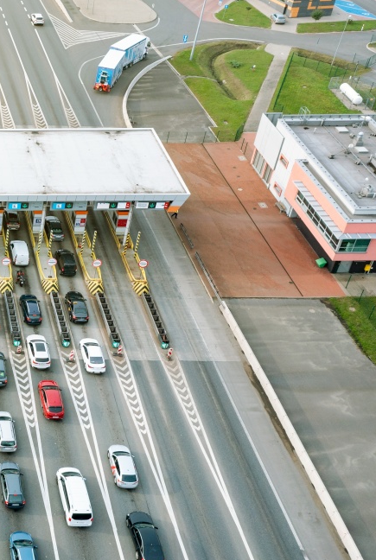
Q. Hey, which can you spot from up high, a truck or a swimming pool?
truck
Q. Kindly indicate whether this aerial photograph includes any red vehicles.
Yes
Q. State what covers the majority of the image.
paved ground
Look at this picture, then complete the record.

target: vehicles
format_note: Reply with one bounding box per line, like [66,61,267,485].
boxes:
[272,10,288,22]
[20,293,42,325]
[80,339,105,374]
[131,514,162,560]
[0,409,16,451]
[55,248,76,275]
[30,12,44,24]
[27,335,51,369]
[66,292,89,323]
[110,31,153,69]
[17,270,26,286]
[109,446,136,489]
[94,73,109,93]
[10,534,39,560]
[0,461,24,509]
[60,473,89,528]
[9,240,30,266]
[0,351,7,387]
[40,383,63,420]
